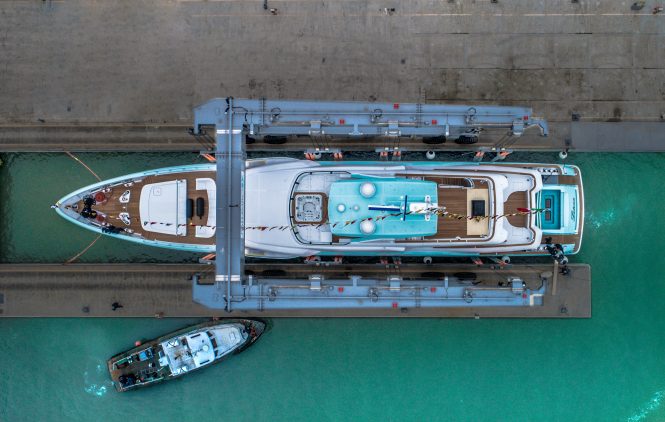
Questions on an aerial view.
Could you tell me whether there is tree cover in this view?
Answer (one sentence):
No, the picture contains no tree cover.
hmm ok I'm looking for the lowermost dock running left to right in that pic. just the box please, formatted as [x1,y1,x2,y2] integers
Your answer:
[0,263,590,317]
